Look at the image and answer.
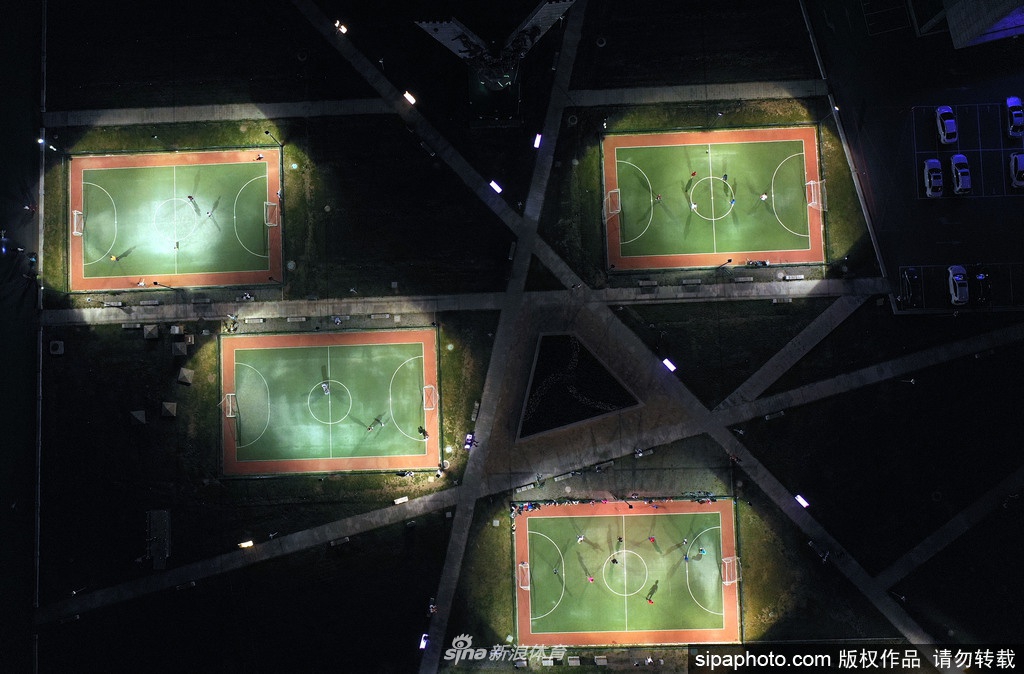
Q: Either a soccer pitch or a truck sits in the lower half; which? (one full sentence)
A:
Looking in the lower half, you will find a soccer pitch.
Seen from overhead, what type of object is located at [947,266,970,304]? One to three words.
car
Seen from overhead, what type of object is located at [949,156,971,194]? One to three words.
car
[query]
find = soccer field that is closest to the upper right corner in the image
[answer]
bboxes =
[603,127,823,269]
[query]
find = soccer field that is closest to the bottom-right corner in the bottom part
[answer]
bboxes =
[514,499,740,647]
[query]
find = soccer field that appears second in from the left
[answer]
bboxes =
[222,330,439,474]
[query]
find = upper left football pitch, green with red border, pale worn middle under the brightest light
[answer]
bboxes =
[71,150,281,290]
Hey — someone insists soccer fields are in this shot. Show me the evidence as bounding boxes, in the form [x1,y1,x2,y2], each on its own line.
[603,127,823,269]
[222,330,439,474]
[71,150,281,290]
[514,499,740,647]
